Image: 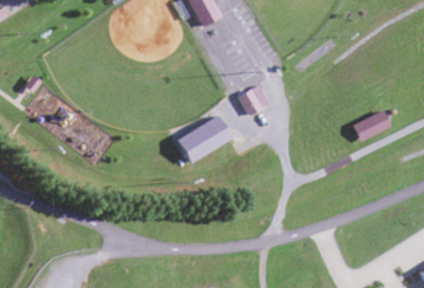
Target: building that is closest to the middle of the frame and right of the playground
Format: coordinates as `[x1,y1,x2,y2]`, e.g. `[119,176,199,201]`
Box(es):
[178,116,231,163]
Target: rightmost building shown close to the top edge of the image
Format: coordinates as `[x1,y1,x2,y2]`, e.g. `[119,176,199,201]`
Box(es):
[189,0,222,26]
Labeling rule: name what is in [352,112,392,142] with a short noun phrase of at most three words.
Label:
barn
